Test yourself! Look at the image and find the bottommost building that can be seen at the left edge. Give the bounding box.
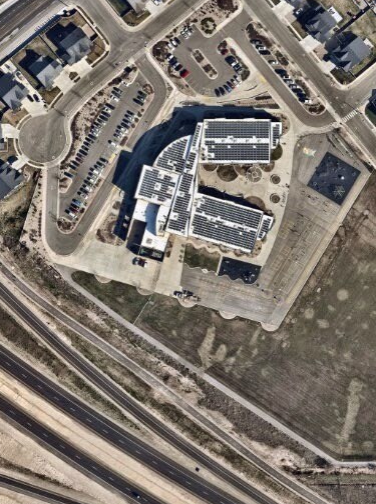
[0,166,25,204]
